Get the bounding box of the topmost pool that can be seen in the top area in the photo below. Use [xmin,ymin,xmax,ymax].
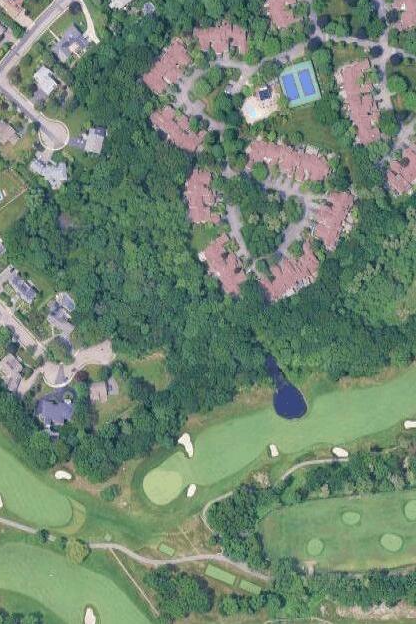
[241,95,278,124]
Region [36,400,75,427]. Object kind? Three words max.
house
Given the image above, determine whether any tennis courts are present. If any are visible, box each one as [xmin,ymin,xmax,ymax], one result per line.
[279,68,305,107]
[296,64,321,103]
